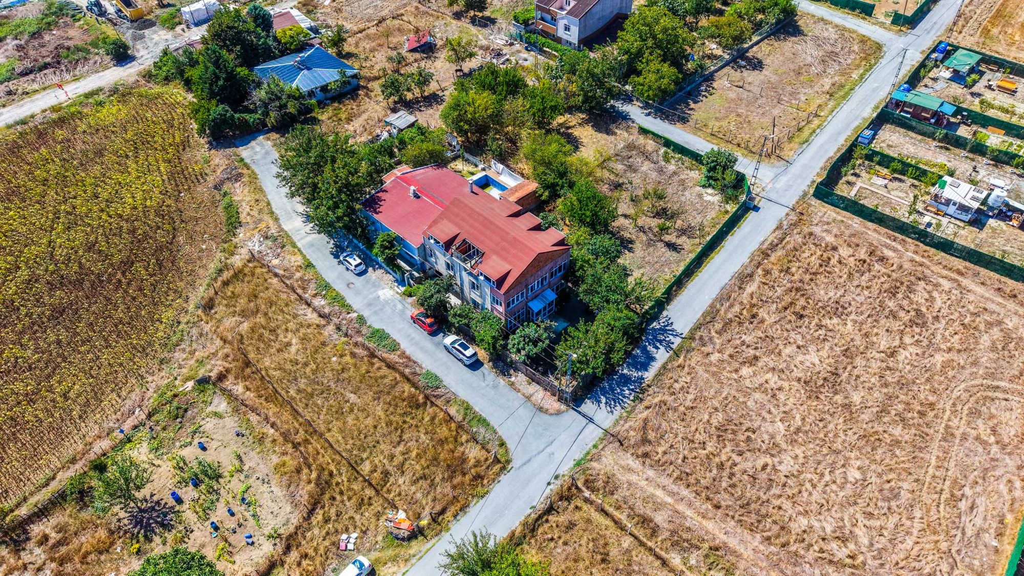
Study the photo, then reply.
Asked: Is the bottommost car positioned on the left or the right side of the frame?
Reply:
left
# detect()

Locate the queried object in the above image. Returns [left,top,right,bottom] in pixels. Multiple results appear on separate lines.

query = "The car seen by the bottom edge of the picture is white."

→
[334,553,375,576]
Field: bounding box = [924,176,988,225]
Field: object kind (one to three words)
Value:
building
